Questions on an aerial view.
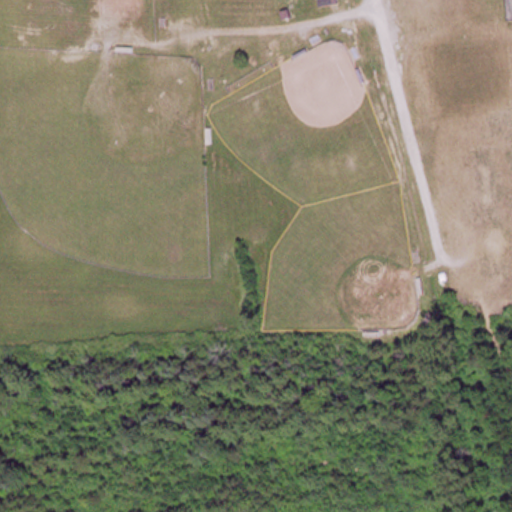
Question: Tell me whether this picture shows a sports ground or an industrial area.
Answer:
sports ground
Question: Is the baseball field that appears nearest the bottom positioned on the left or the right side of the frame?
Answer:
right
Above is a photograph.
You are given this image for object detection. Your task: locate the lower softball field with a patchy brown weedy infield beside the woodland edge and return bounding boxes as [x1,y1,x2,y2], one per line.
[264,182,418,331]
